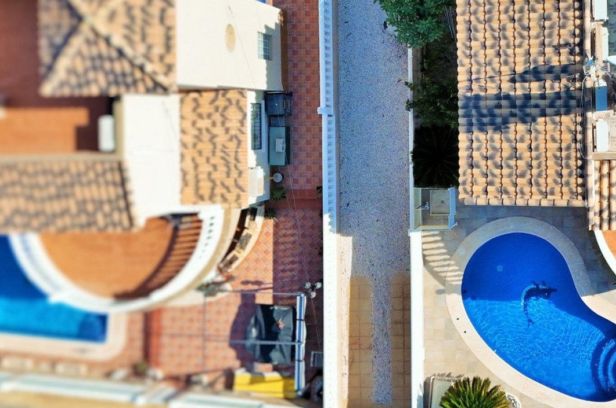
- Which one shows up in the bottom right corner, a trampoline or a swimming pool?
swimming pool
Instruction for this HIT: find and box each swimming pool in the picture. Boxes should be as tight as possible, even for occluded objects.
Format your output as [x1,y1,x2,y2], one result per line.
[0,232,123,359]
[445,217,616,408]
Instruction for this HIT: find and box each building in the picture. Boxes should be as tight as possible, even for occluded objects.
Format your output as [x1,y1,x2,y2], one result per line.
[0,0,282,324]
[456,0,616,275]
